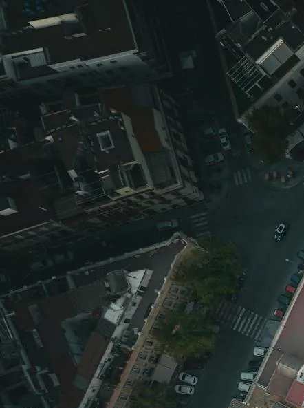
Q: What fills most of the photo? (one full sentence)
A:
The largest share of the image is taken up by buildings.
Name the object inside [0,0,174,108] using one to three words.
building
